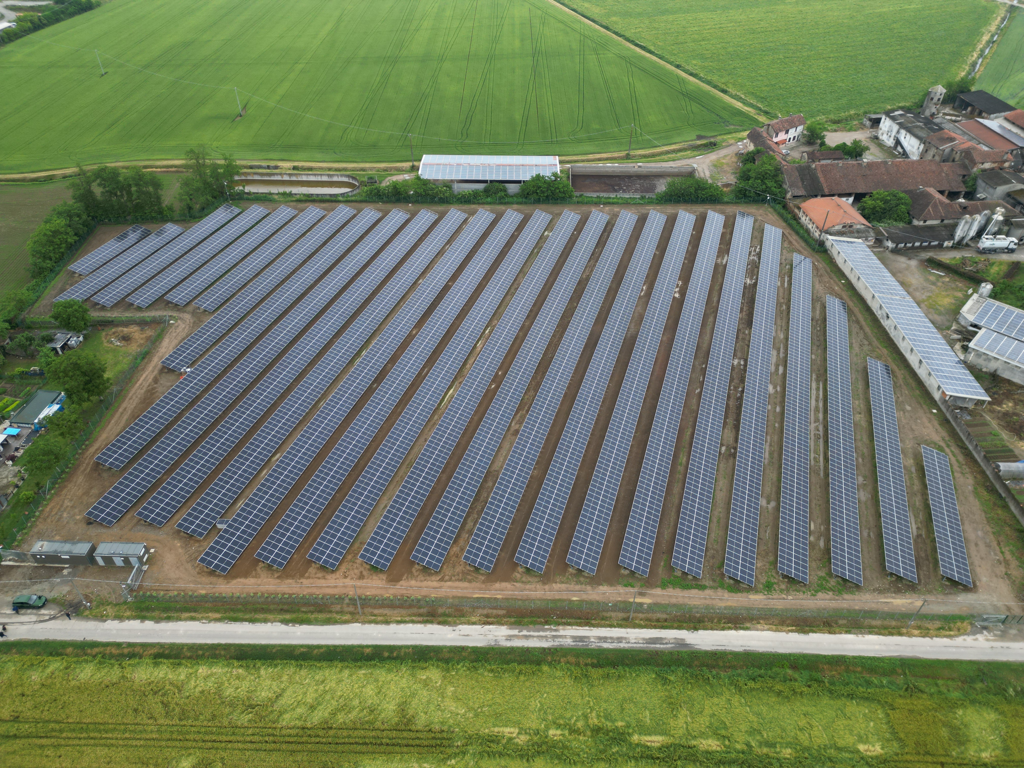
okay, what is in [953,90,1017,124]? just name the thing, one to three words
shed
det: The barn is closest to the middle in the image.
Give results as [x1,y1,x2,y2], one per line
[415,155,561,194]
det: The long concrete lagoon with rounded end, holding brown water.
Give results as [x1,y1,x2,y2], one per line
[196,171,361,198]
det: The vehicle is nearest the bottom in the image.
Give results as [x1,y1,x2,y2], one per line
[10,590,49,607]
